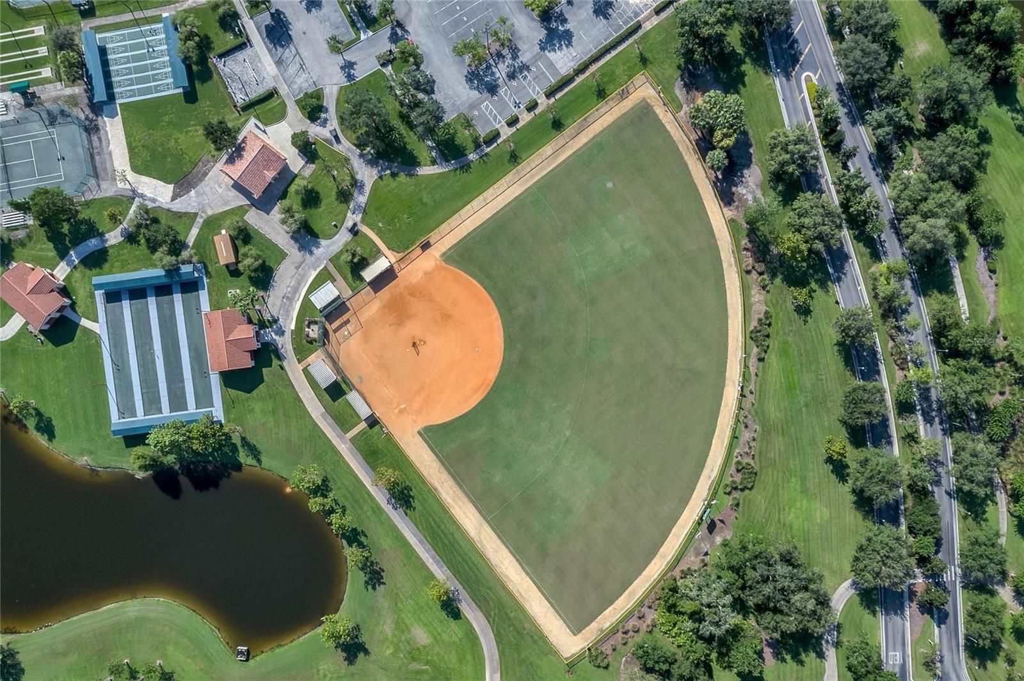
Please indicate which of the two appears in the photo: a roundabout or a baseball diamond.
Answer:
baseball diamond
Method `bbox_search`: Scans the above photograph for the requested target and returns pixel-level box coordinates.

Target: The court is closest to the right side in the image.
[213,42,276,105]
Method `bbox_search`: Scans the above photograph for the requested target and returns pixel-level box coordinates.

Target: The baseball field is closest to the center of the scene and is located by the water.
[324,74,741,659]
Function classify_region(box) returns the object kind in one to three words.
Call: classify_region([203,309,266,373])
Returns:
building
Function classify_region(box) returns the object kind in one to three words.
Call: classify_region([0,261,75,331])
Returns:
building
